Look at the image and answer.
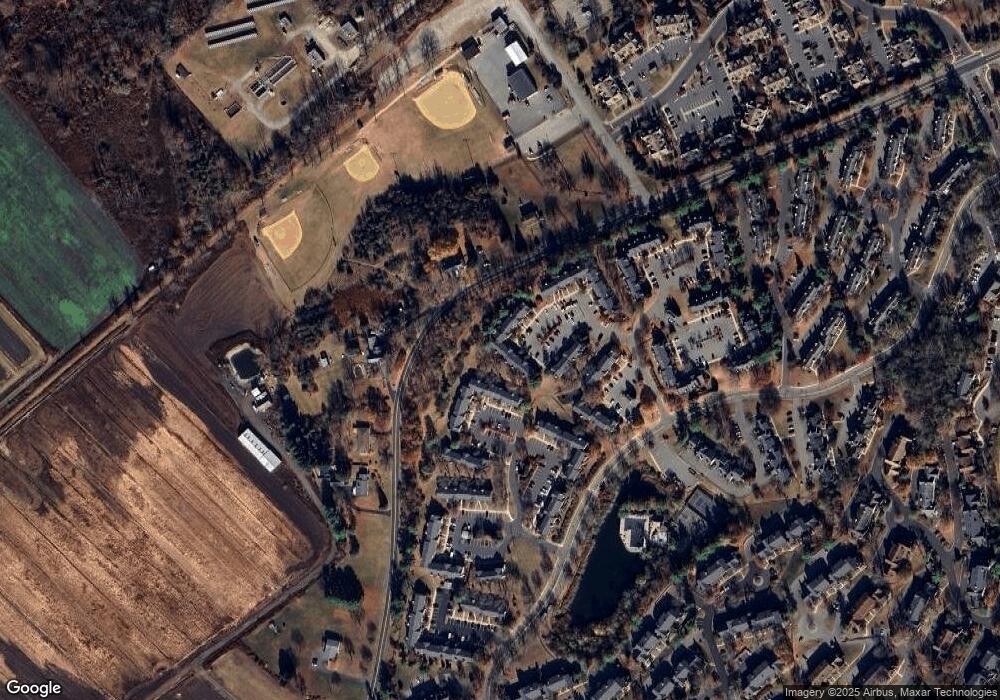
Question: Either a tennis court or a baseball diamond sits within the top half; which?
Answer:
baseball diamond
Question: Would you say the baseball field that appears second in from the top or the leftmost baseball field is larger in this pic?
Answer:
the leftmost baseball field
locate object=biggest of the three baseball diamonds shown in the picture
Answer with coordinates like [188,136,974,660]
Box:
[261,185,333,290]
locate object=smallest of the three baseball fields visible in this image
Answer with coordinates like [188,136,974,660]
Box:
[344,144,379,181]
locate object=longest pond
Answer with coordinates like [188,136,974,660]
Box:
[568,470,667,628]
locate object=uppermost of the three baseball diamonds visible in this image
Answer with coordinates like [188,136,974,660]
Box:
[415,71,476,129]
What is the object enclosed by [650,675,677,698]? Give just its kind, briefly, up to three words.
house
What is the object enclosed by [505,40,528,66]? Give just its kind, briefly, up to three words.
barn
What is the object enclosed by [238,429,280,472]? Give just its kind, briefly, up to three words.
building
